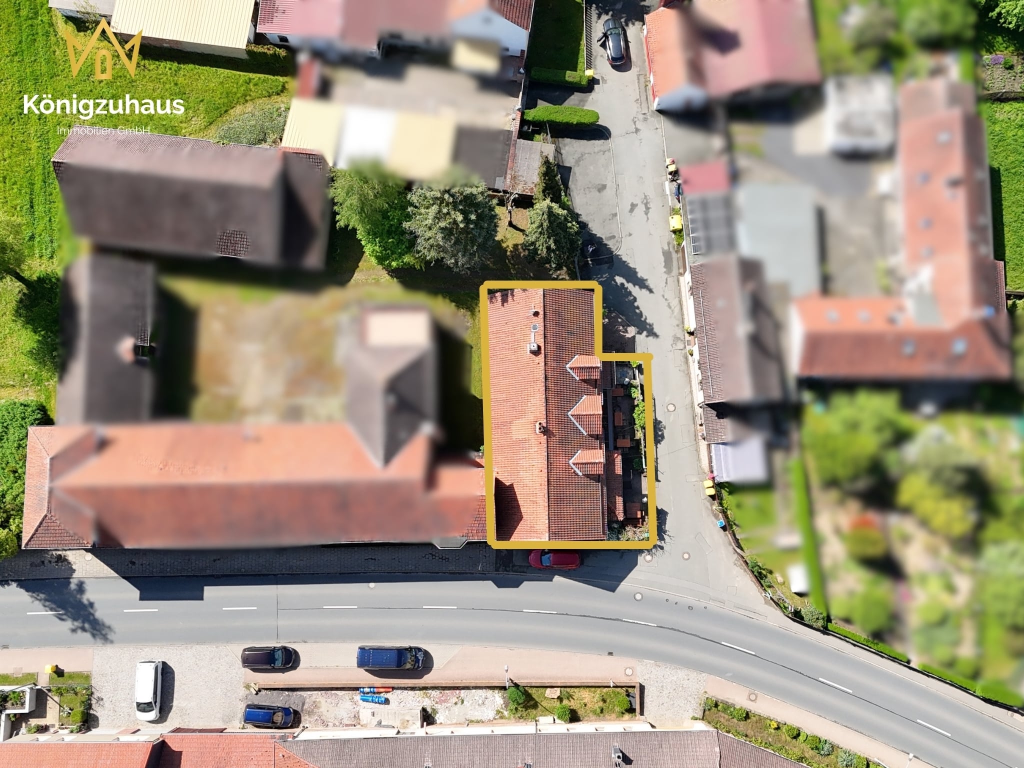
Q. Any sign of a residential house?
Yes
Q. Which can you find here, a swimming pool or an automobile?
automobile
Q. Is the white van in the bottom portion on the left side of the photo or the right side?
left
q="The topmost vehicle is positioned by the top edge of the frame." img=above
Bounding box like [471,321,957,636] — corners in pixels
[595,23,629,71]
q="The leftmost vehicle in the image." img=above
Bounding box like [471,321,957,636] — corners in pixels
[130,659,168,723]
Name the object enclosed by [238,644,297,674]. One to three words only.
car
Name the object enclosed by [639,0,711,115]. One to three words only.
house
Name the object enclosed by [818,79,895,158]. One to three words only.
building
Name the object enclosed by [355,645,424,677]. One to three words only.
van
